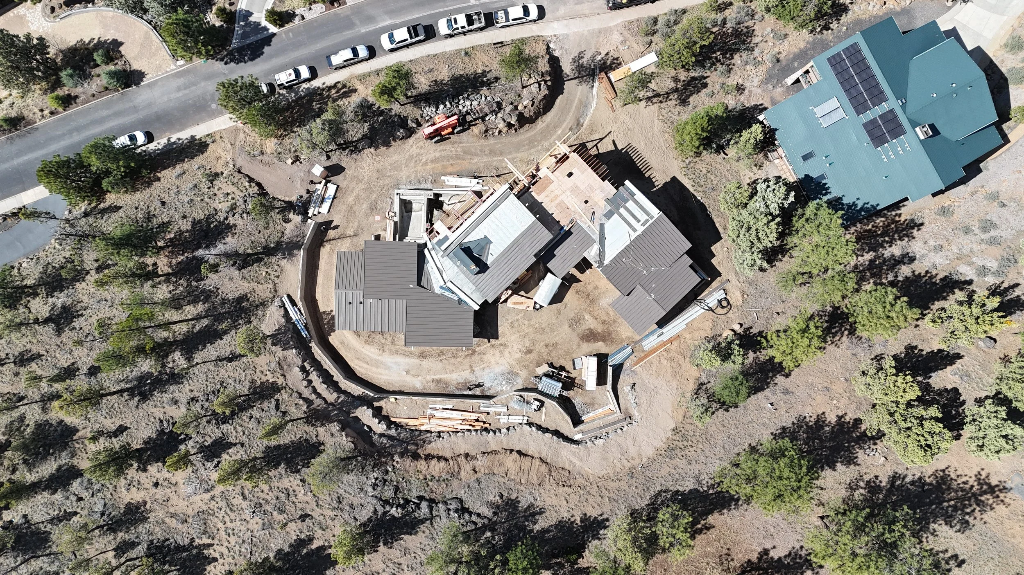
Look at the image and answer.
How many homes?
two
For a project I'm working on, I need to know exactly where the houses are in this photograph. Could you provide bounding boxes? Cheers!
[763,15,1003,222]
[335,131,712,350]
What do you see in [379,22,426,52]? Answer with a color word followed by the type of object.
white truck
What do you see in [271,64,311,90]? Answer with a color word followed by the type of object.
white car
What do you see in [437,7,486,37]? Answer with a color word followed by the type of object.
white truck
